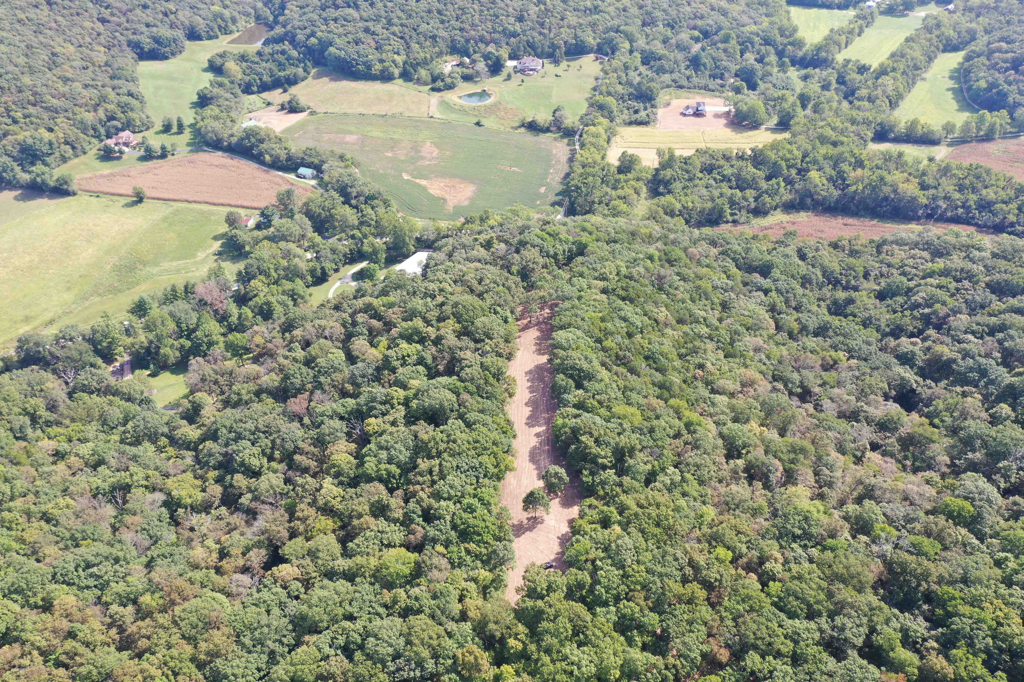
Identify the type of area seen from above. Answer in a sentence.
This image shows a forest.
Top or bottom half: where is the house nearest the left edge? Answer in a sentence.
The house nearest the left edge is in the top half of the image.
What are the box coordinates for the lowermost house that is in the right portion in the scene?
[682,98,710,116]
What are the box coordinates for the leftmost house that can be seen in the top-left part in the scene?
[94,125,139,147]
